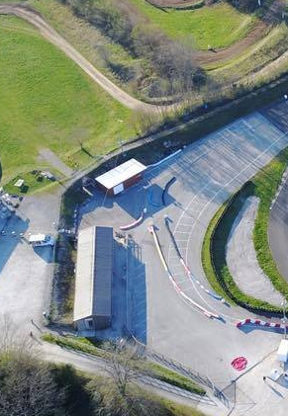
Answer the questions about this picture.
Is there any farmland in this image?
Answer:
Yes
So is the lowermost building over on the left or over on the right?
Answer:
left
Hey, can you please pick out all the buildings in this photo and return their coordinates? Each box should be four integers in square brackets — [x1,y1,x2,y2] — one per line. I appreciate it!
[74,218,114,338]
[95,160,148,201]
